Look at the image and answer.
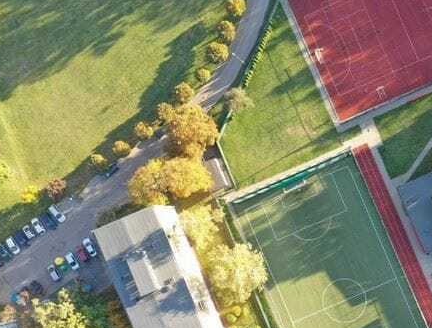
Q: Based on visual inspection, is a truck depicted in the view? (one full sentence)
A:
No, no truck is visible in the view.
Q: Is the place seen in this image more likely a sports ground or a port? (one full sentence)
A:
It's a sports ground.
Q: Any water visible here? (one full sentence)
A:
No, the picture contains no water.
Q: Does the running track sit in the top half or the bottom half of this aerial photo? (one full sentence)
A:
The running track sits in the bottom half of the picture.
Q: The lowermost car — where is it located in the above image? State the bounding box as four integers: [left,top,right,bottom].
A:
[27,280,44,293]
